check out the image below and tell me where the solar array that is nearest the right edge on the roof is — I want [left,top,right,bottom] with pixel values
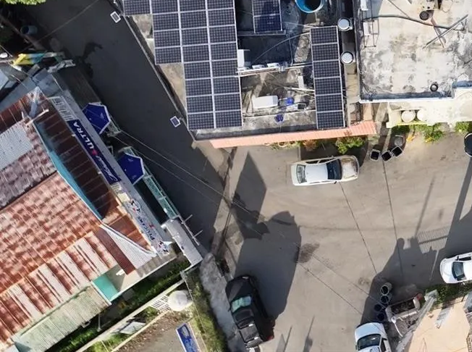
[310,26,345,130]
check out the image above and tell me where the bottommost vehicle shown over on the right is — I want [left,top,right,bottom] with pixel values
[353,319,385,352]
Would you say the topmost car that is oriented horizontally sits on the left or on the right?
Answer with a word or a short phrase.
right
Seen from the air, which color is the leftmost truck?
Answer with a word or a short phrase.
black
